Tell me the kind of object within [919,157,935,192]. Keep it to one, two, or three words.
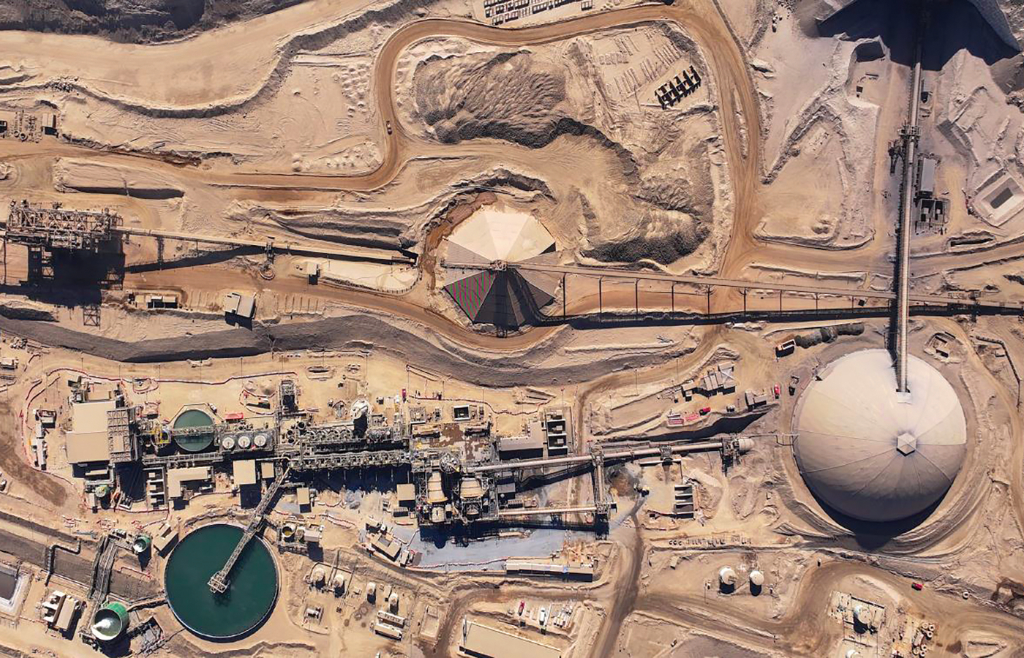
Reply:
building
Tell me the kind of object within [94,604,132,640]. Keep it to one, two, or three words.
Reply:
storage tank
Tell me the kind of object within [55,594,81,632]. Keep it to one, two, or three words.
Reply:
building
